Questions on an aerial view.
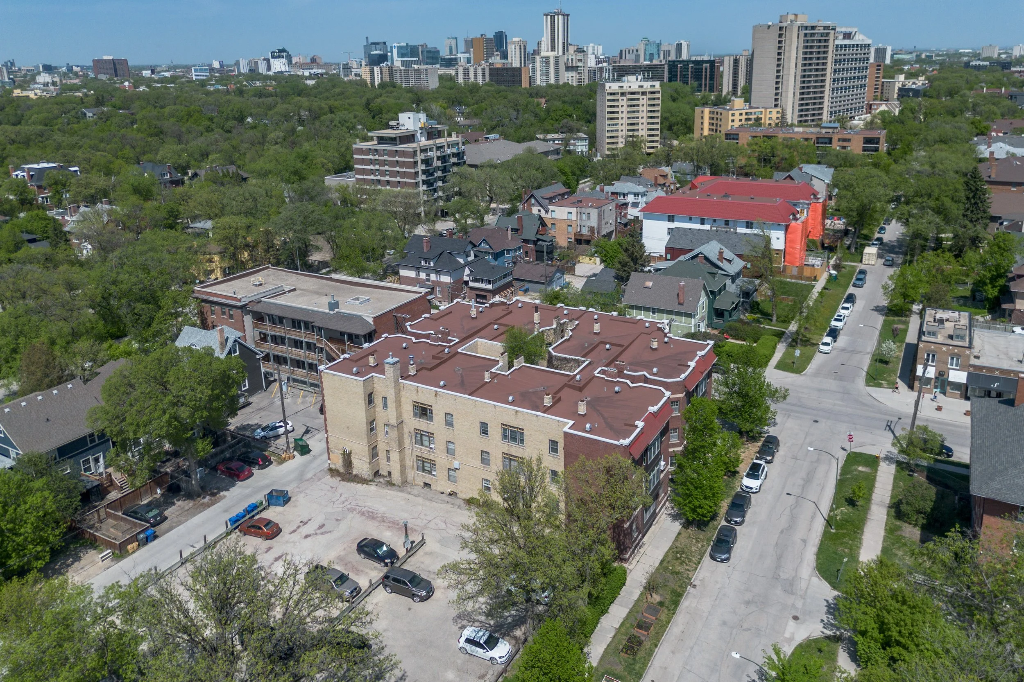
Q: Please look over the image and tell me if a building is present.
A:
Yes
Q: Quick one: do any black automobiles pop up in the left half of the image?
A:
Yes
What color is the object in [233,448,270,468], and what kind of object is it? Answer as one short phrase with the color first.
black car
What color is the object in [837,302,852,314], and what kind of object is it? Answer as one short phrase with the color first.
white vehicle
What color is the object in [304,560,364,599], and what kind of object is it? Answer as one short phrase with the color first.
gray truck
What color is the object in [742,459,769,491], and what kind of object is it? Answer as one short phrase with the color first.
white car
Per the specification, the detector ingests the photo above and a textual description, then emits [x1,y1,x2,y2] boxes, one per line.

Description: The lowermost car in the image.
[457,624,514,664]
